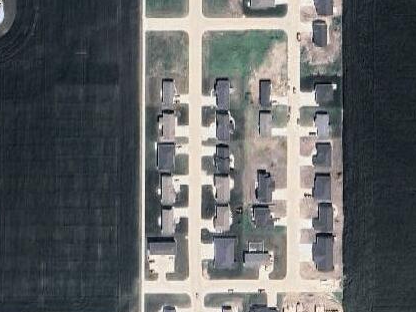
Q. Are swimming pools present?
No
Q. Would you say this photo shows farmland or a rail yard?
farmland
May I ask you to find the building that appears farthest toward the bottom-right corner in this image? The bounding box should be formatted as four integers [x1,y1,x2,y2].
[312,236,333,272]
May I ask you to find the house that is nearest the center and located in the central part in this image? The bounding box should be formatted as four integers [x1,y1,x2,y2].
[216,147,229,174]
